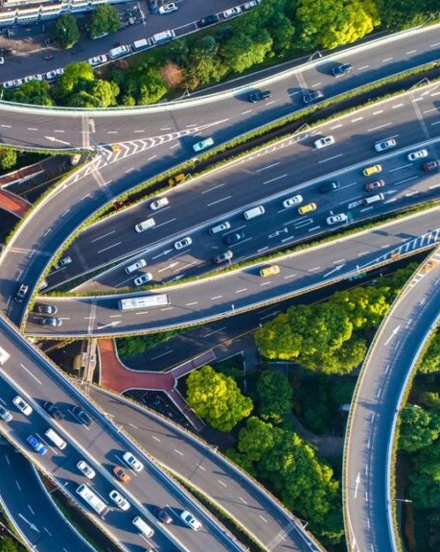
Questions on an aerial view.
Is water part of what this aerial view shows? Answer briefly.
No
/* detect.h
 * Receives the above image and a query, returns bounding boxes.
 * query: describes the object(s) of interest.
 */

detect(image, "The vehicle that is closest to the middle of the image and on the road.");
[213,251,232,263]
